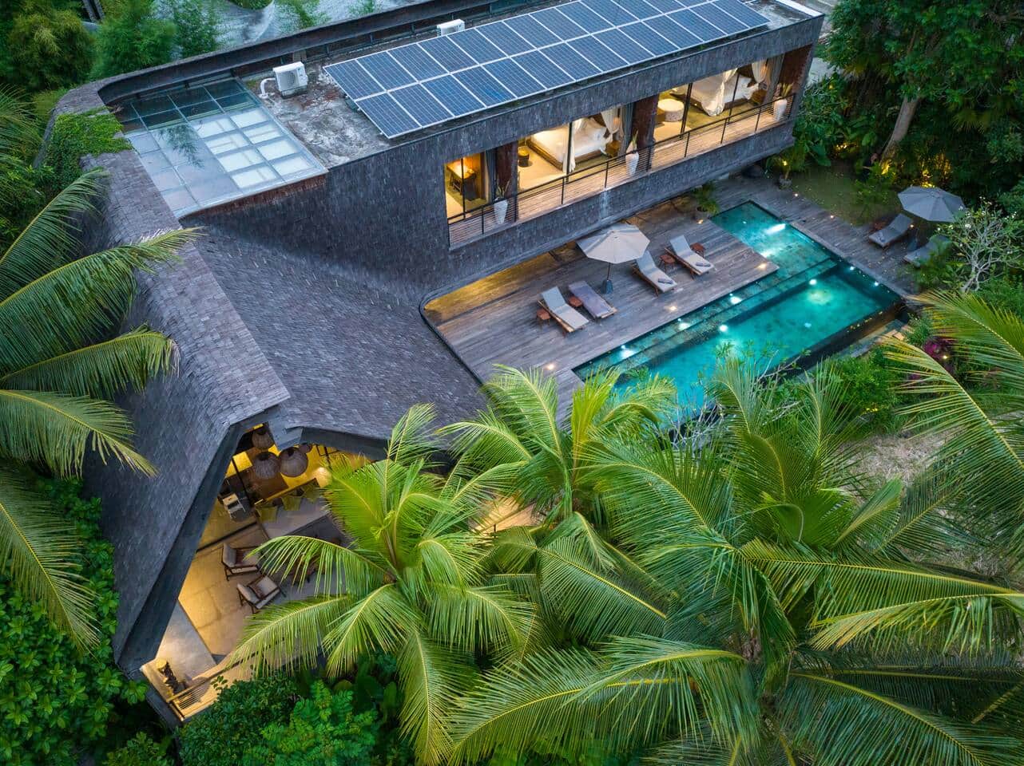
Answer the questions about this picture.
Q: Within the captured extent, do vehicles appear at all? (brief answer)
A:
No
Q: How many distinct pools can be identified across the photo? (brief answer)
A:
1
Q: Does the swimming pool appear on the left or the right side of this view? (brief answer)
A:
right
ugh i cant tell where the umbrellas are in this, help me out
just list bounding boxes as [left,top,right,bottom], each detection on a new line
[897,177,976,248]
[574,218,655,292]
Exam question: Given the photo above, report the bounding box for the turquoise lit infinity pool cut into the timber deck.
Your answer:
[571,202,928,469]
